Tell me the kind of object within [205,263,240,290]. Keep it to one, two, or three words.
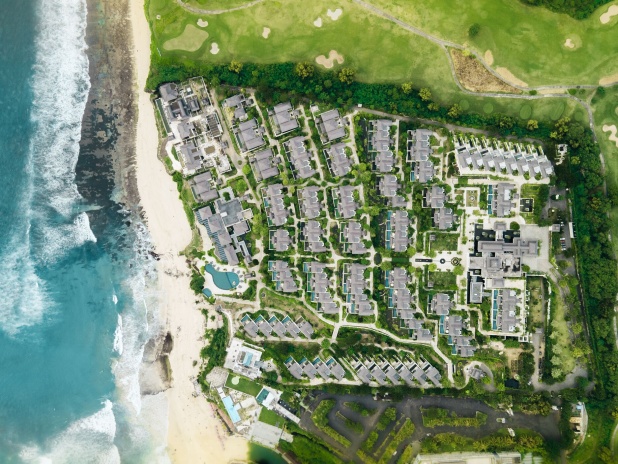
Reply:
swimming pool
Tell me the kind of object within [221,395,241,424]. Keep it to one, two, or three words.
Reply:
swimming pool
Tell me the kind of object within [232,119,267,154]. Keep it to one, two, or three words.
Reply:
house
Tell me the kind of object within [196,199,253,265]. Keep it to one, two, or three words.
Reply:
building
